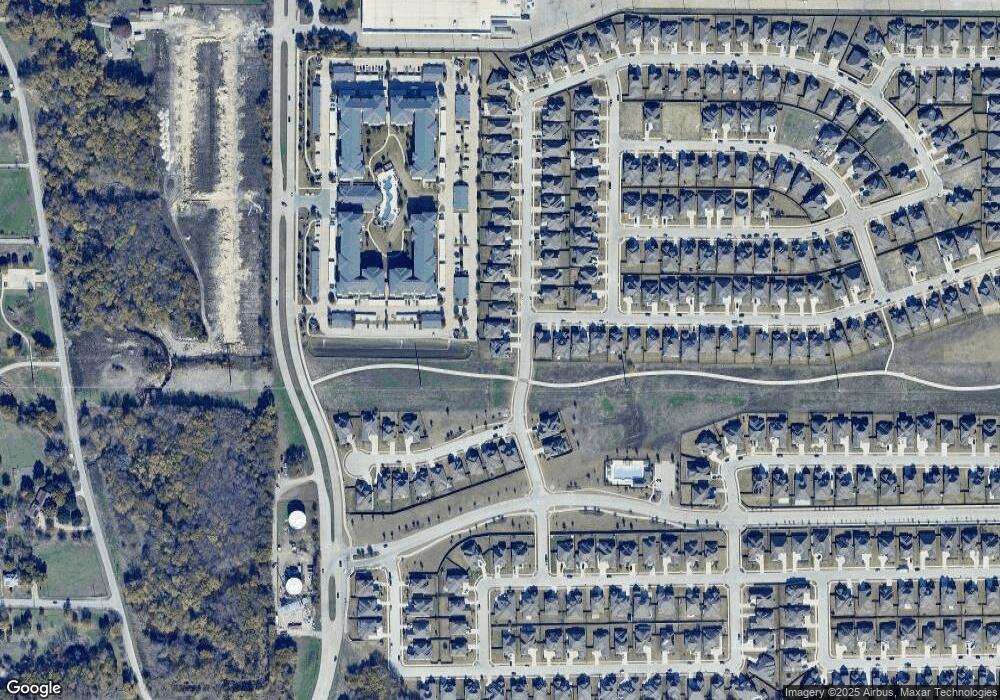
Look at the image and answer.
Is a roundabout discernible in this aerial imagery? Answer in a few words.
No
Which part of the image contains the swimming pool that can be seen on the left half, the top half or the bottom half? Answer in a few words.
top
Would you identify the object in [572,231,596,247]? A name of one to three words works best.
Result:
house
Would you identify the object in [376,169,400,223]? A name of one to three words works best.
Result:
swimming pool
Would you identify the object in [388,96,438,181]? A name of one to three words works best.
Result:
building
